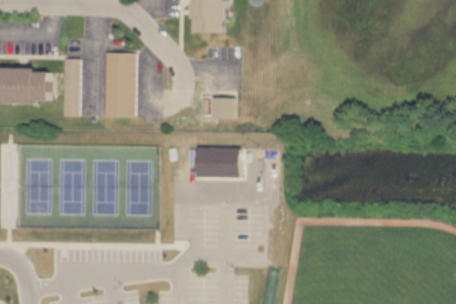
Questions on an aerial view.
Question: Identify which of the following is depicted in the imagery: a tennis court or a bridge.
tennis court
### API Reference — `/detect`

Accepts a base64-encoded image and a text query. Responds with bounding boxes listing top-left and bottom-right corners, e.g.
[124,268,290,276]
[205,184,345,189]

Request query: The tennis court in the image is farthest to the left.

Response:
[26,158,52,214]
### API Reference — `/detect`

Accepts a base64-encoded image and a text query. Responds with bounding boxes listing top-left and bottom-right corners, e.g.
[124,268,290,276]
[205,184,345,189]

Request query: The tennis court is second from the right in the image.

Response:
[92,159,120,215]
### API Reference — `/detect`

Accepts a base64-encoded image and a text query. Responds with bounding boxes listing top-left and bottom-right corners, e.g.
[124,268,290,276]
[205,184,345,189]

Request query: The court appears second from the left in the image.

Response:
[60,158,86,214]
